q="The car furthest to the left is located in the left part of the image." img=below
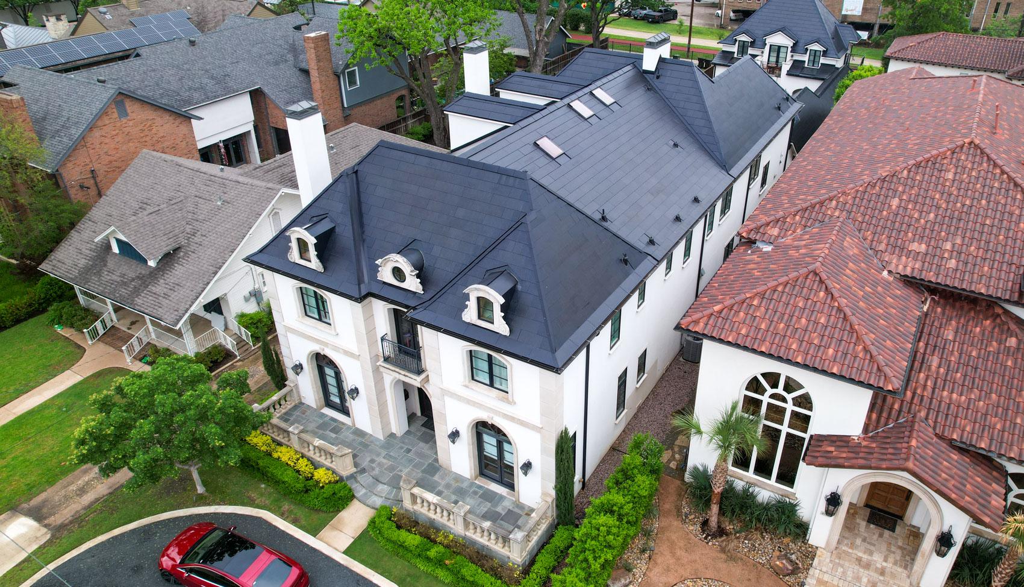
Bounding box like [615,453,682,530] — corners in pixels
[163,520,304,587]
